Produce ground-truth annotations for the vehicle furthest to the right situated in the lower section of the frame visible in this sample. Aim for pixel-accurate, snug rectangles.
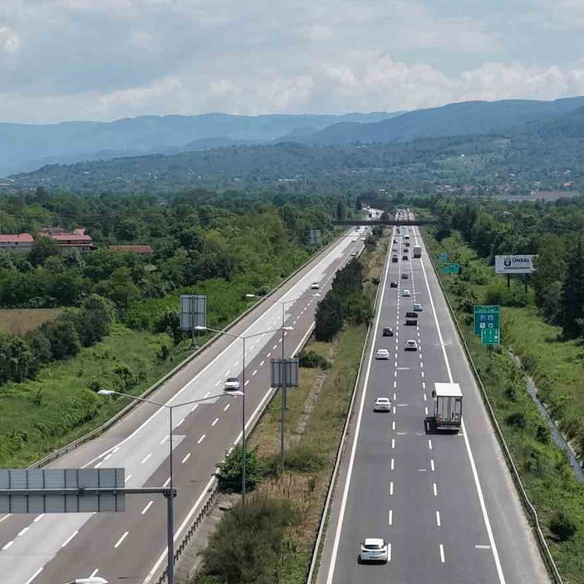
[431,382,461,428]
